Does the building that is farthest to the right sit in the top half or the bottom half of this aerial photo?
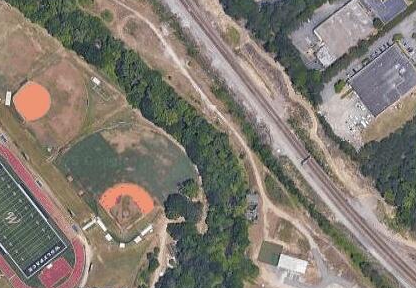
top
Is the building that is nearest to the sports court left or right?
right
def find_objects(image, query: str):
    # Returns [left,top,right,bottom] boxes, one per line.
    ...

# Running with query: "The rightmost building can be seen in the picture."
[352,45,416,116]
